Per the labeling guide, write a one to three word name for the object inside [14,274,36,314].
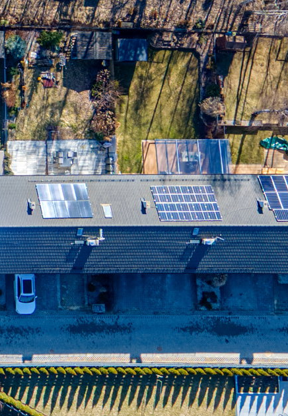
car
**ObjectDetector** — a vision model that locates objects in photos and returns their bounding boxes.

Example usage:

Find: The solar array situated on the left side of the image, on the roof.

[33,183,98,217]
